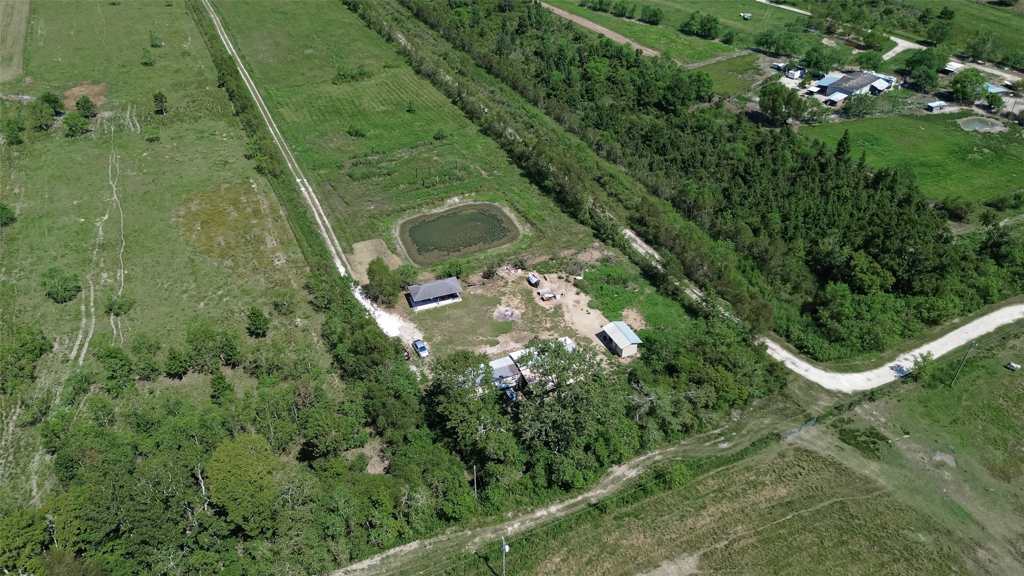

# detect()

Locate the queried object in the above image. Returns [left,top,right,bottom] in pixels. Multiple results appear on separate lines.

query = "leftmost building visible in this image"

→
[409,277,463,311]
